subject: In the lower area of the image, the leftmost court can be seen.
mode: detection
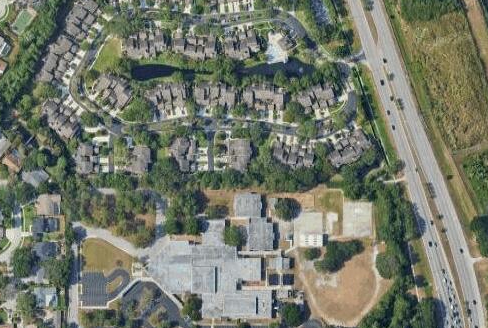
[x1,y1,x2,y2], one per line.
[294,213,322,234]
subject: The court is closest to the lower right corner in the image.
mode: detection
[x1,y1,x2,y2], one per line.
[343,202,372,237]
